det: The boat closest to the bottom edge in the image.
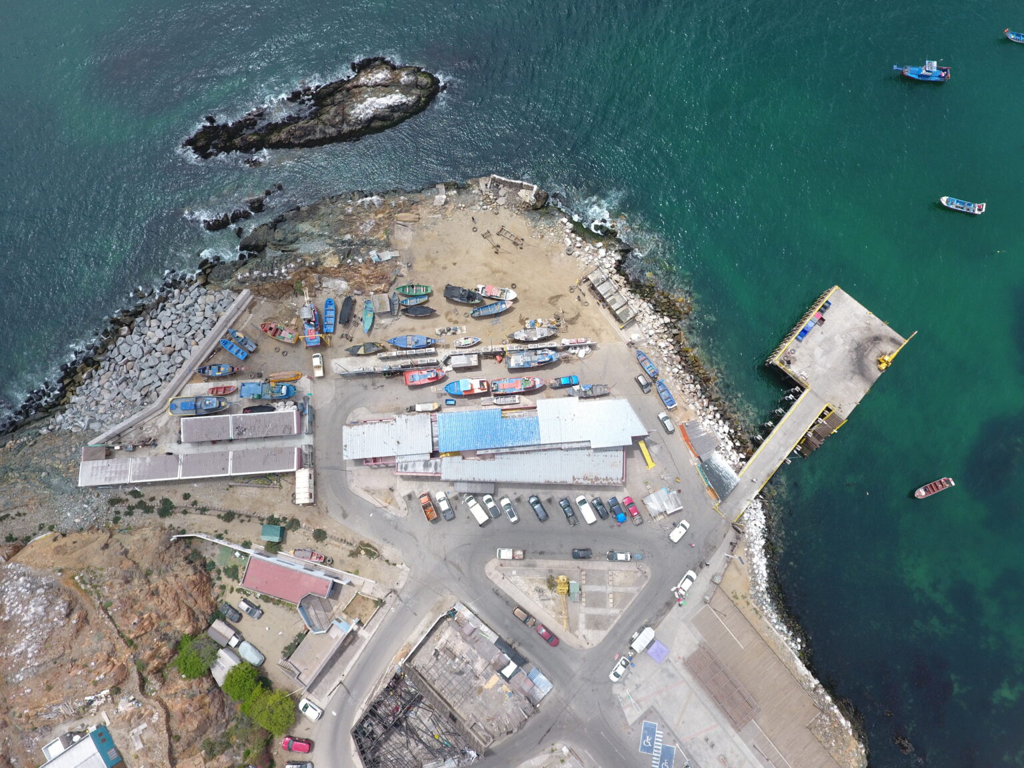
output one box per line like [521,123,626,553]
[288,550,327,563]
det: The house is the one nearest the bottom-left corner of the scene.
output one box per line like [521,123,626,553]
[42,716,138,768]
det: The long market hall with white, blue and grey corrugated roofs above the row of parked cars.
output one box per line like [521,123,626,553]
[343,397,648,493]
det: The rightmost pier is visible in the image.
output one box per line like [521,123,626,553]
[713,285,905,522]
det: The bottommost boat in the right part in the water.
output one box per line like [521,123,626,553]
[914,476,957,498]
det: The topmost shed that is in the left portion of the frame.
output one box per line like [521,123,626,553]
[371,293,391,315]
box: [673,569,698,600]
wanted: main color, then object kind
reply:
white truck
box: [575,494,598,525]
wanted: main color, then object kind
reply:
white vehicle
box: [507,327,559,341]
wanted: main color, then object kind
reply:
white boat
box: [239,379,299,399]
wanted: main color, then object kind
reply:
blue boat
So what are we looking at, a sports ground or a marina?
marina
